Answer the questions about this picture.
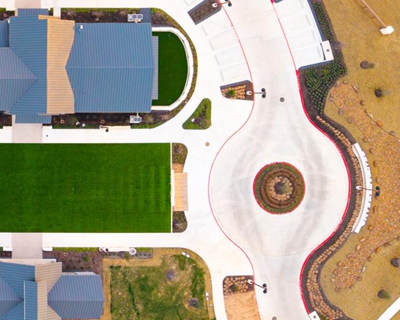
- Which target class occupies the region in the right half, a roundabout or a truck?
roundabout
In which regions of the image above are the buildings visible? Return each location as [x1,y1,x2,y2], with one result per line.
[0,261,107,320]
[0,7,159,124]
